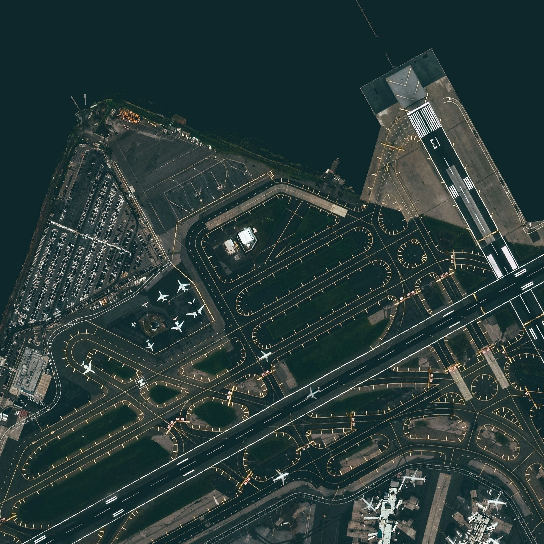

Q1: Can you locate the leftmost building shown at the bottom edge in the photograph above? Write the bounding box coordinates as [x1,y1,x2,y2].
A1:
[364,477,405,544]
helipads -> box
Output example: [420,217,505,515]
[135,376,147,389]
